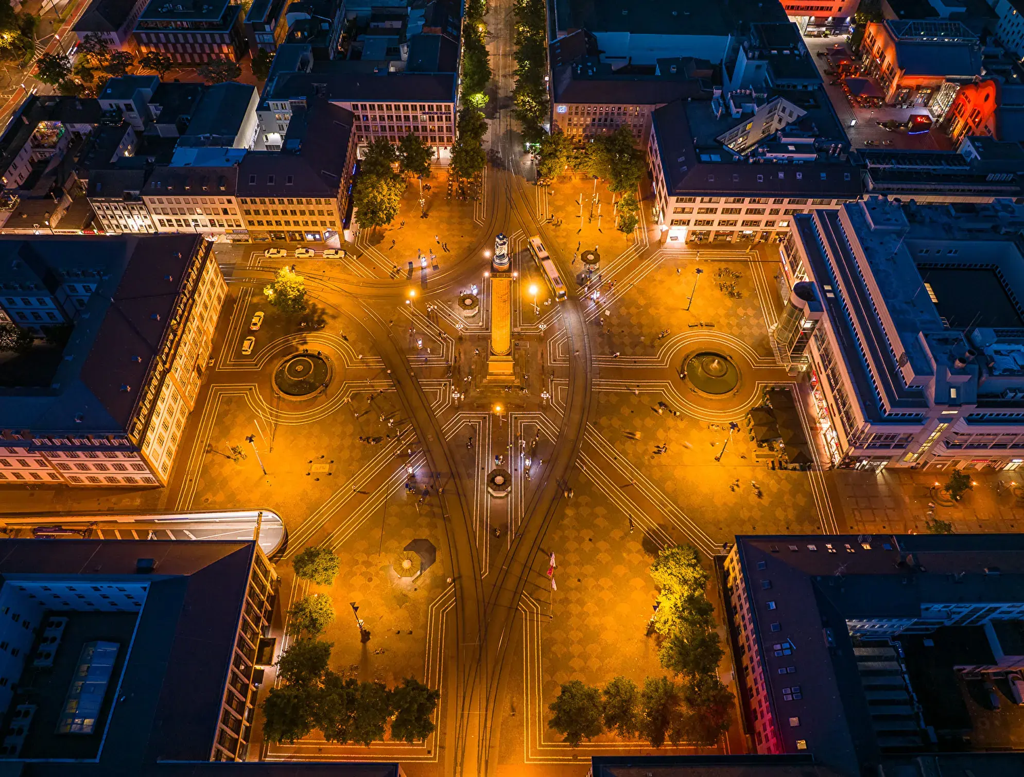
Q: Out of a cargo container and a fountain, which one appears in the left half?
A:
fountain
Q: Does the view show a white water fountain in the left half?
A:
No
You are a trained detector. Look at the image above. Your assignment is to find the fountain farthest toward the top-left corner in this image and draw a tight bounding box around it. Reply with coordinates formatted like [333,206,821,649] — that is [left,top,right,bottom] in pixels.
[269,347,336,402]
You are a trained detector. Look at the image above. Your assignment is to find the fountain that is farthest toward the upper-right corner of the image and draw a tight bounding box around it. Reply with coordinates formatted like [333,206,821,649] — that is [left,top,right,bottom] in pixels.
[680,346,747,401]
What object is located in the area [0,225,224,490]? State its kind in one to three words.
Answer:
building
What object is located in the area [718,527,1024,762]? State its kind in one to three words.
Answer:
house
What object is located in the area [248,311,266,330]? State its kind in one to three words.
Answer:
car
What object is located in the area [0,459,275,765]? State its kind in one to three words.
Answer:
building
